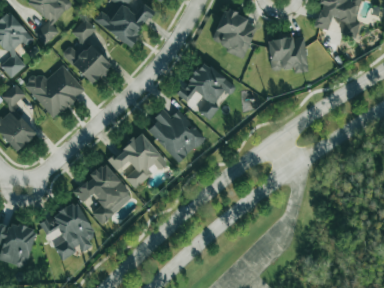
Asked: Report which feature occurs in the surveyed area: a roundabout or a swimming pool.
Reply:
swimming pool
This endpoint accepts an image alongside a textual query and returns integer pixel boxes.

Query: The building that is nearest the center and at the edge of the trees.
[146,106,204,164]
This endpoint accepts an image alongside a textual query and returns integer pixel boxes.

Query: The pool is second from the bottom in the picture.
[146,165,171,191]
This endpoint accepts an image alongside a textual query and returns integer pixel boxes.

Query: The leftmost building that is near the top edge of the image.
[0,12,32,75]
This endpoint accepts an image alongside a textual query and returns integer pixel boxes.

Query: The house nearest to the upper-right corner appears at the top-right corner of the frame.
[314,0,365,38]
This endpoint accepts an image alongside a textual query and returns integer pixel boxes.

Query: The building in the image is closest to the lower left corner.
[0,226,38,264]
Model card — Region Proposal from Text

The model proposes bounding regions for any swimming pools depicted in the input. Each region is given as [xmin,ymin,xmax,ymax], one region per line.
[112,199,138,225]
[358,0,381,24]
[146,165,171,191]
